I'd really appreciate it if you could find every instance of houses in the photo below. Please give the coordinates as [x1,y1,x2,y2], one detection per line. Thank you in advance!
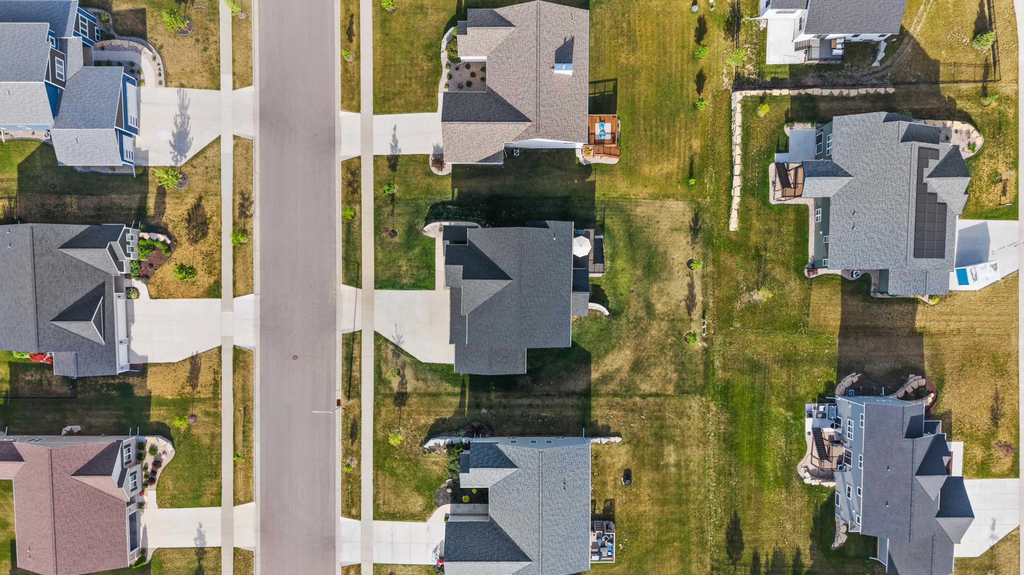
[0,427,143,575]
[442,220,590,375]
[443,429,591,575]
[0,0,142,176]
[824,386,974,575]
[0,220,150,377]
[803,111,972,294]
[442,0,590,171]
[751,0,907,43]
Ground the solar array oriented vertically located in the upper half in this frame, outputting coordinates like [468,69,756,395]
[915,148,945,259]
